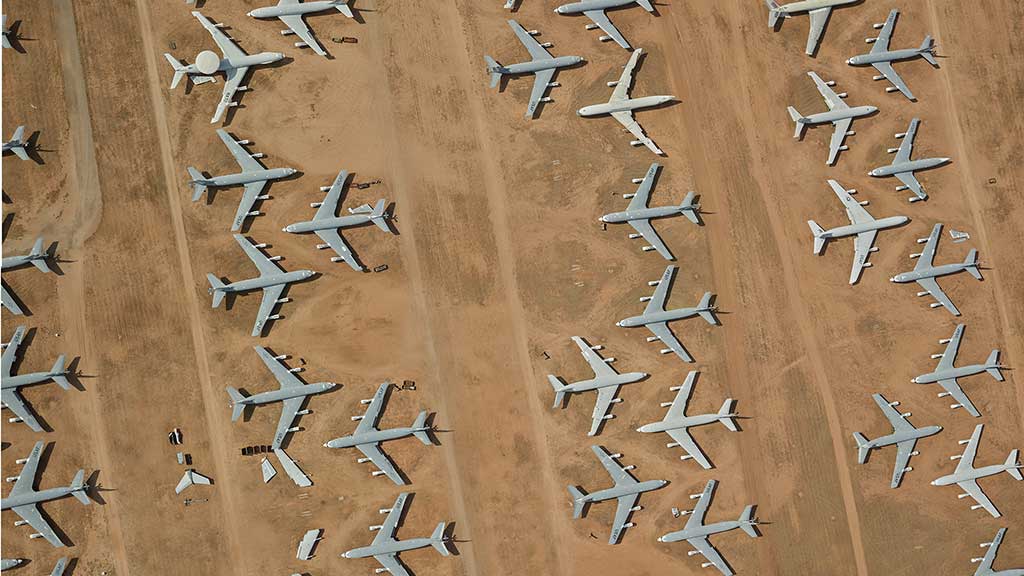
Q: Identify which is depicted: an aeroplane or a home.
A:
aeroplane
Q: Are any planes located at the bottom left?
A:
Yes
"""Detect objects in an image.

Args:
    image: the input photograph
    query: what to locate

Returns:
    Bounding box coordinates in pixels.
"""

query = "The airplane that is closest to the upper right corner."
[845,9,941,100]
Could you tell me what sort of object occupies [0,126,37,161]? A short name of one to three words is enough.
airplane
